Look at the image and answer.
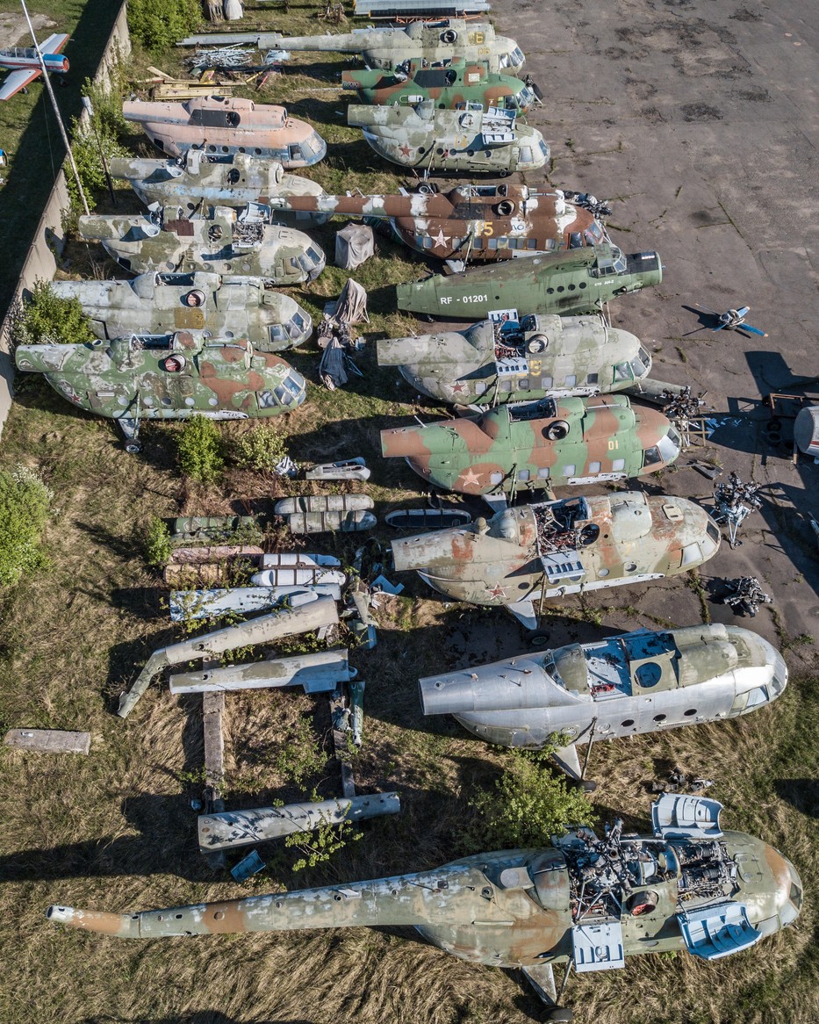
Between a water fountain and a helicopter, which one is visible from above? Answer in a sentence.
The one in the frame is a helicopter.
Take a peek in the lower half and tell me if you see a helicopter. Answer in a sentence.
Yes, I can see a helicopter in the lower half.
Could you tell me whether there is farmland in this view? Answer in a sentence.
No, there is no farmland in the image.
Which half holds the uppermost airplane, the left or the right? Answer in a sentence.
The uppermost airplane appears in the left half of the scene.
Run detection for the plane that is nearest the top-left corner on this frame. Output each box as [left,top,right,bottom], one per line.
[0,35,73,105]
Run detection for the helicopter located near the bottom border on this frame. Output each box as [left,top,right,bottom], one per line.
[35,789,810,1024]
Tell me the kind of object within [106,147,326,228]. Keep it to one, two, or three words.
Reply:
helicopter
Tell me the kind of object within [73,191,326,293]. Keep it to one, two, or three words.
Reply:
helicopter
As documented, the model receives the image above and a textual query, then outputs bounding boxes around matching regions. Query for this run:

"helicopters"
[342,56,533,115]
[7,327,307,453]
[345,95,550,192]
[106,147,326,228]
[73,191,326,293]
[377,299,654,410]
[380,393,685,512]
[258,21,525,76]
[417,621,795,795]
[275,185,606,269]
[35,789,810,1024]
[47,266,313,356]
[389,488,725,639]
[118,91,327,170]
